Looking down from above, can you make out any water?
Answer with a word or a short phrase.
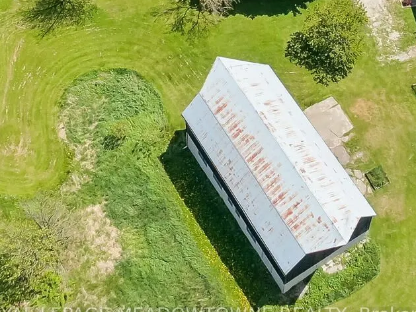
No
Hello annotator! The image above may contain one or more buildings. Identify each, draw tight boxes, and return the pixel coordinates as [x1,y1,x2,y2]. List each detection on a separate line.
[180,57,378,290]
